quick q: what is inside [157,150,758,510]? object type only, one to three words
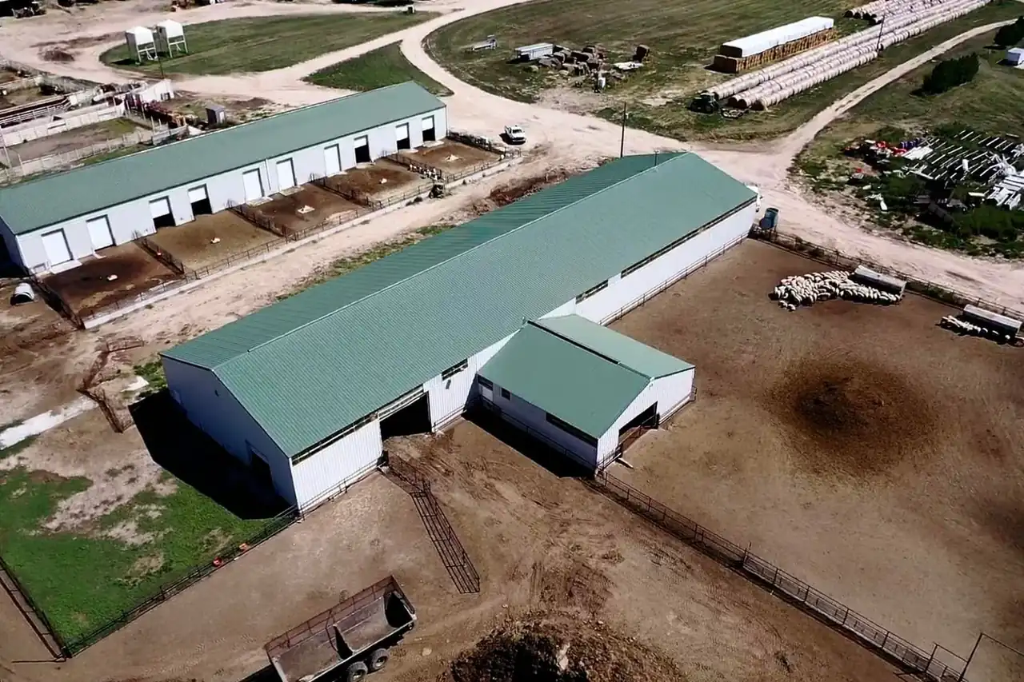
barn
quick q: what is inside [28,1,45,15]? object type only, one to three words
work vehicle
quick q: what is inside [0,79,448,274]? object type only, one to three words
barn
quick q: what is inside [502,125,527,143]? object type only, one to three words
vehicle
